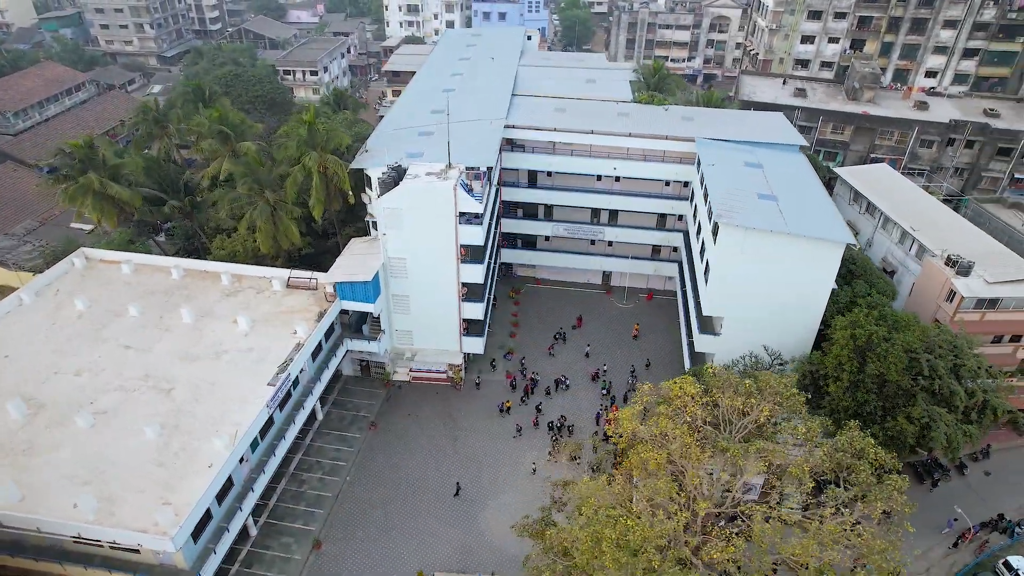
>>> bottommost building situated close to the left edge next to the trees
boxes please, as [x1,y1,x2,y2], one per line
[0,249,355,576]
